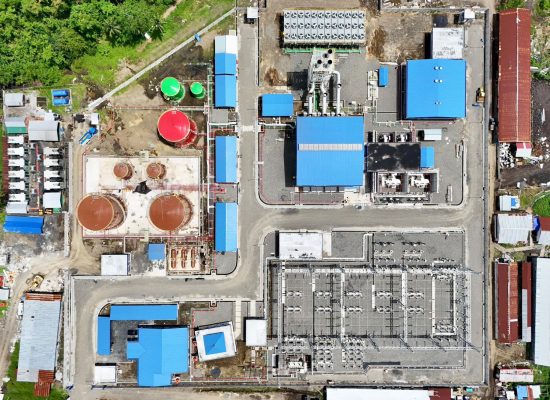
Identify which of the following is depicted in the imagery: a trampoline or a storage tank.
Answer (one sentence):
Visible in the photo is a storage tank.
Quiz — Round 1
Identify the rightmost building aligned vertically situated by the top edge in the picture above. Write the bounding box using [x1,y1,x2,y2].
[493,9,531,142]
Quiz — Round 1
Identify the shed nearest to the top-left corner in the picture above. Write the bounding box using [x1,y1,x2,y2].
[4,93,28,108]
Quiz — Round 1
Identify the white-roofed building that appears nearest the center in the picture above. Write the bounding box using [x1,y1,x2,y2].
[279,232,323,259]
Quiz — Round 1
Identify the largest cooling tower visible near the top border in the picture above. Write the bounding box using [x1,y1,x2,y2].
[280,9,365,53]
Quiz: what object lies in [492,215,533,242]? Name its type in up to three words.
house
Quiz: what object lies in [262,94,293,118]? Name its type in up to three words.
building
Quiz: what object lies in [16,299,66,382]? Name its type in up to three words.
barn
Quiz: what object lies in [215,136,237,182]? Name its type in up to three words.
shed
